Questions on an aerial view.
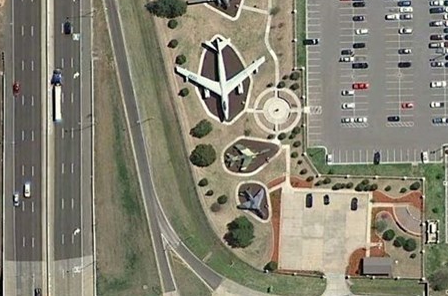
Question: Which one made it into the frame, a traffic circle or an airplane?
airplane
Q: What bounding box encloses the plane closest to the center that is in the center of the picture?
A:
[226,145,271,170]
